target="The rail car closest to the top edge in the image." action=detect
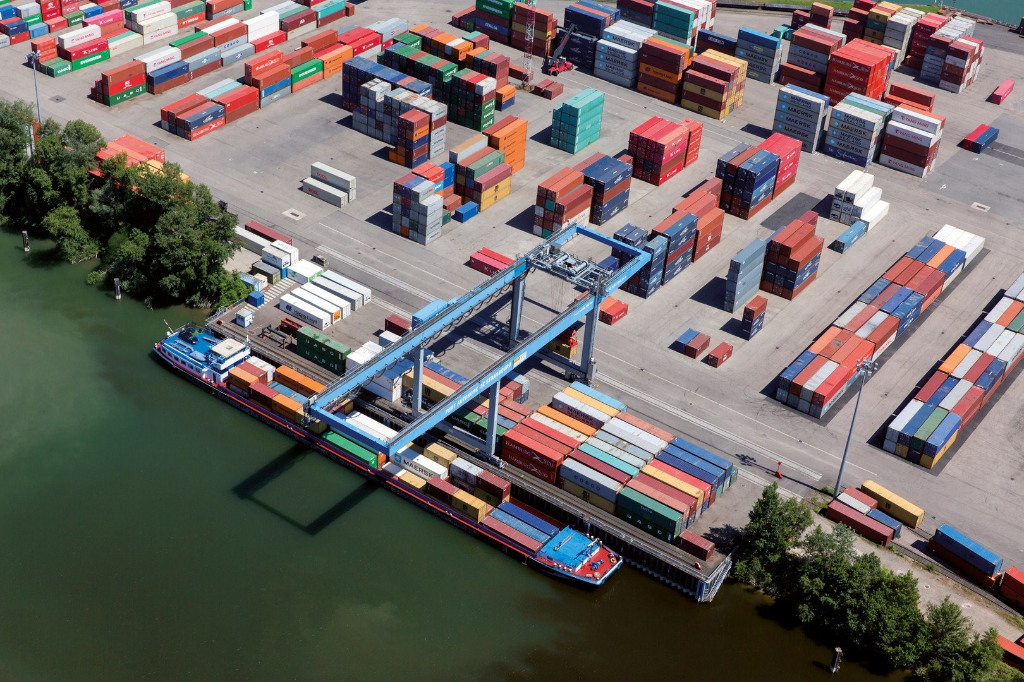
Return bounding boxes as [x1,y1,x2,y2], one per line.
[922,546,999,590]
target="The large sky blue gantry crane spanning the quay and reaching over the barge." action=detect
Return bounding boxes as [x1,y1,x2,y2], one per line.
[292,218,657,465]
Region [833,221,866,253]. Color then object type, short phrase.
blue shipping container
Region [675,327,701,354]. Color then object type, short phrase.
blue shipping container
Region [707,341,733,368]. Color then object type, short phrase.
red shipping container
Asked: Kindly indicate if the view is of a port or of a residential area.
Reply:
port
